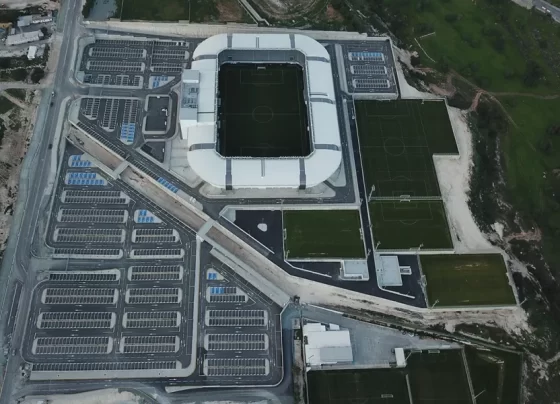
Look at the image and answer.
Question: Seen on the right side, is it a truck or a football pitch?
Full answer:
Visible on the right side is a football pitch.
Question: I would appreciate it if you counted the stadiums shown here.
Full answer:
Just 1 stadium appears in this view.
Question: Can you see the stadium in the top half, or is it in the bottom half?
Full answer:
You can find the stadium in the top half.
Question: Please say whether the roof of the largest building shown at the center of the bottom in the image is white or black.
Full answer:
In this view, the roof of the largest building shown at the center of the bottom is white.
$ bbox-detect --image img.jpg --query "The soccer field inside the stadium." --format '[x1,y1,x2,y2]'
[217,65,312,158]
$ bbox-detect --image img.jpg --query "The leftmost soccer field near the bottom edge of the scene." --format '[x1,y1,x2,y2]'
[306,367,411,404]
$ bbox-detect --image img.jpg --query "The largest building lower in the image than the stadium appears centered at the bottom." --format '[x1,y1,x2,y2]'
[302,323,353,366]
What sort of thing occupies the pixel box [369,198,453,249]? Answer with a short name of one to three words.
soccer field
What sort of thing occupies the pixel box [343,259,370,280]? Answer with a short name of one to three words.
building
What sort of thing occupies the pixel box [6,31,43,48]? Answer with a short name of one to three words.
building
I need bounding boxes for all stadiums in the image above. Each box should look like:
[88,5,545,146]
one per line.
[179,32,343,194]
